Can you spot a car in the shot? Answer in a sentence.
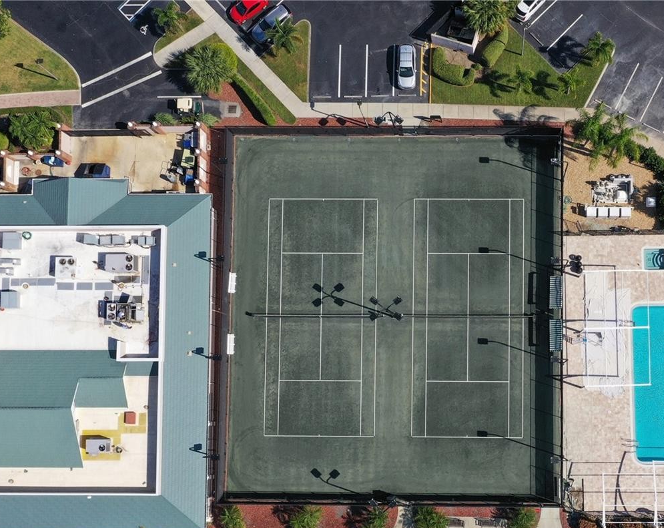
Yes, I can see a car in this picture.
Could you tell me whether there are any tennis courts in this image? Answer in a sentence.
Yes, the image includes a tennis court.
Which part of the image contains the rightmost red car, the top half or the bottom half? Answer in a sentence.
The rightmost red car is in the top half of the image.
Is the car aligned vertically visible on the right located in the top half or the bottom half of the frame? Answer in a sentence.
You can find the car aligned vertically visible on the right in the top half.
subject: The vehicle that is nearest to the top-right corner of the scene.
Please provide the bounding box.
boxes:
[514,0,555,26]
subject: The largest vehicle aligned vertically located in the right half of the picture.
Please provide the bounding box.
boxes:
[395,46,417,94]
